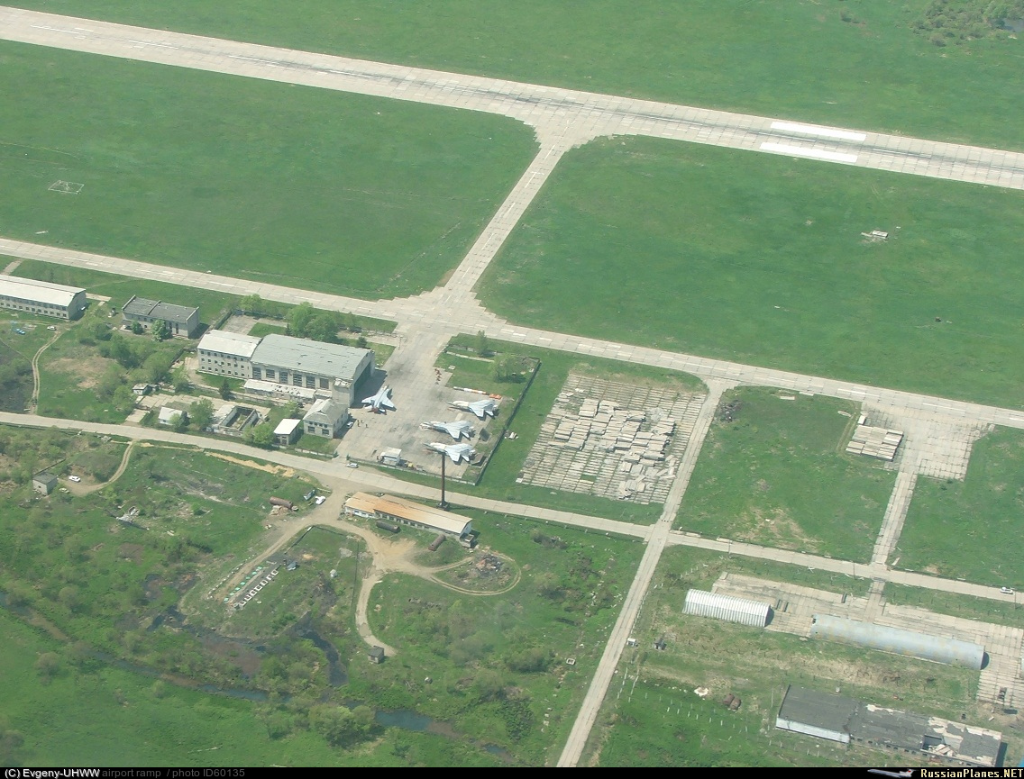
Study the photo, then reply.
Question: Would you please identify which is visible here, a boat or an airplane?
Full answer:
Looking from above, you can make out an airplane.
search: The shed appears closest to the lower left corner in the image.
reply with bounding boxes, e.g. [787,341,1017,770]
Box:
[32,469,60,494]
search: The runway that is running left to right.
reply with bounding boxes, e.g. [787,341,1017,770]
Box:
[0,5,1024,189]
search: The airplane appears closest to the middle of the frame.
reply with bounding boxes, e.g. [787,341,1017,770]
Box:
[458,395,499,414]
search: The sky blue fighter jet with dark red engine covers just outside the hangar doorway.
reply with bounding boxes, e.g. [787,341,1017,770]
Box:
[361,383,396,412]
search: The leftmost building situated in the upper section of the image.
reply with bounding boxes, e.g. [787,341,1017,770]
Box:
[0,277,83,319]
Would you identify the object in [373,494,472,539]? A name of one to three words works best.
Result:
building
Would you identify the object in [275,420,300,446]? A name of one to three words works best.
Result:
shed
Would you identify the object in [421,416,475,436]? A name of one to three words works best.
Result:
airplane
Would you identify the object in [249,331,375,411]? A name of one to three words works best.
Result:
hangar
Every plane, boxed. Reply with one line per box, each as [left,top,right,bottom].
[361,383,396,412]
[421,416,475,436]
[435,438,478,459]
[458,395,499,414]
